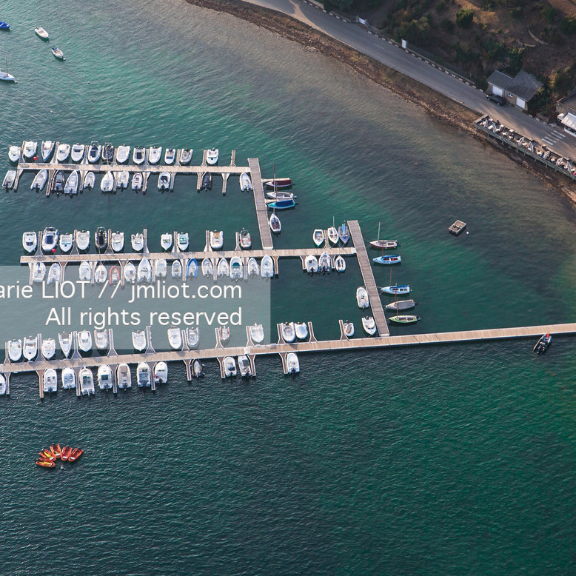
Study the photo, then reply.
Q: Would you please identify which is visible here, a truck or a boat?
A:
boat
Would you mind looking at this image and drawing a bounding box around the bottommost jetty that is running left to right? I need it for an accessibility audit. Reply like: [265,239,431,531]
[0,319,576,399]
